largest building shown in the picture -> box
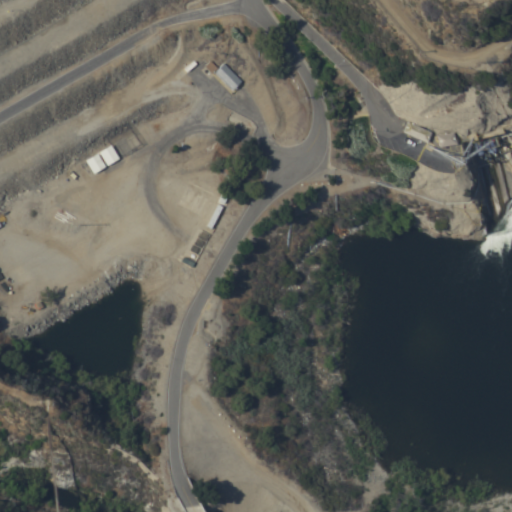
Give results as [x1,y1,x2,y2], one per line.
[214,62,244,94]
